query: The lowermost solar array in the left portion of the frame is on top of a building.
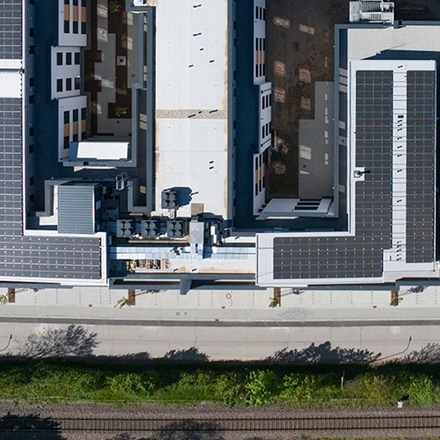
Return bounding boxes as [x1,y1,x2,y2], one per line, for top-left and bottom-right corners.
[0,98,105,278]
